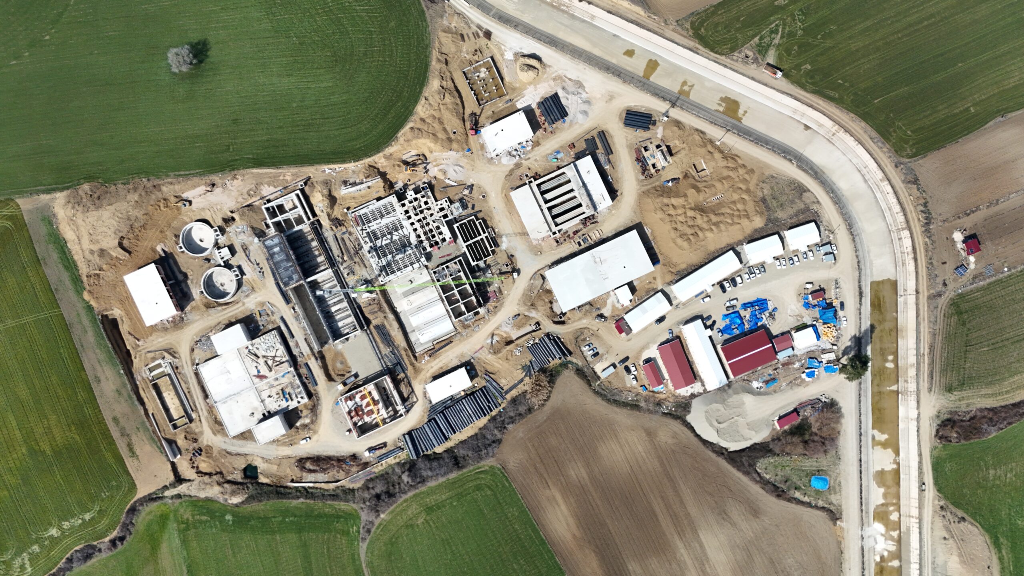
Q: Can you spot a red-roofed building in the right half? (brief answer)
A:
Yes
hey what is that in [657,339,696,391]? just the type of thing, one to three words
shed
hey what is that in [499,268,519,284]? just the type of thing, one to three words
vehicle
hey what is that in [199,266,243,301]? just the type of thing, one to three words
storage tank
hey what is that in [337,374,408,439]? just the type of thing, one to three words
building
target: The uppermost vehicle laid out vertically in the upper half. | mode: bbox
[466,110,479,139]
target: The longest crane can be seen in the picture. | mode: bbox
[315,277,505,296]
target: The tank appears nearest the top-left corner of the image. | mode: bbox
[177,221,224,257]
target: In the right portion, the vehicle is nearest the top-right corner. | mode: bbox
[763,62,785,78]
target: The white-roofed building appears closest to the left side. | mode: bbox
[124,264,183,327]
